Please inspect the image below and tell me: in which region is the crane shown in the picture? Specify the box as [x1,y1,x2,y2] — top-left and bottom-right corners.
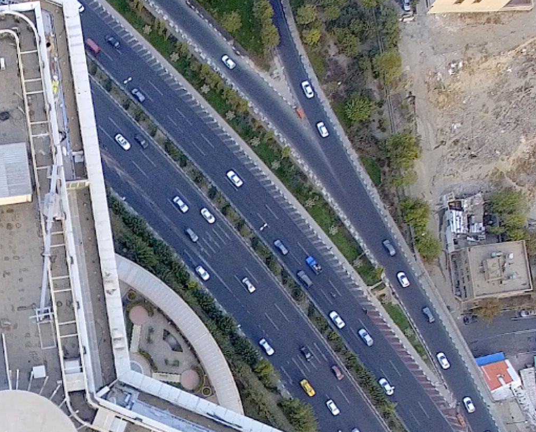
[35,153,59,323]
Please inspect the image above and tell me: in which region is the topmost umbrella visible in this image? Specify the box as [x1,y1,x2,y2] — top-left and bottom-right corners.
[130,305,149,323]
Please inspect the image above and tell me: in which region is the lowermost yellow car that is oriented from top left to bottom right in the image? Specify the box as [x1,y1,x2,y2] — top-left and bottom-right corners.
[299,378,316,397]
